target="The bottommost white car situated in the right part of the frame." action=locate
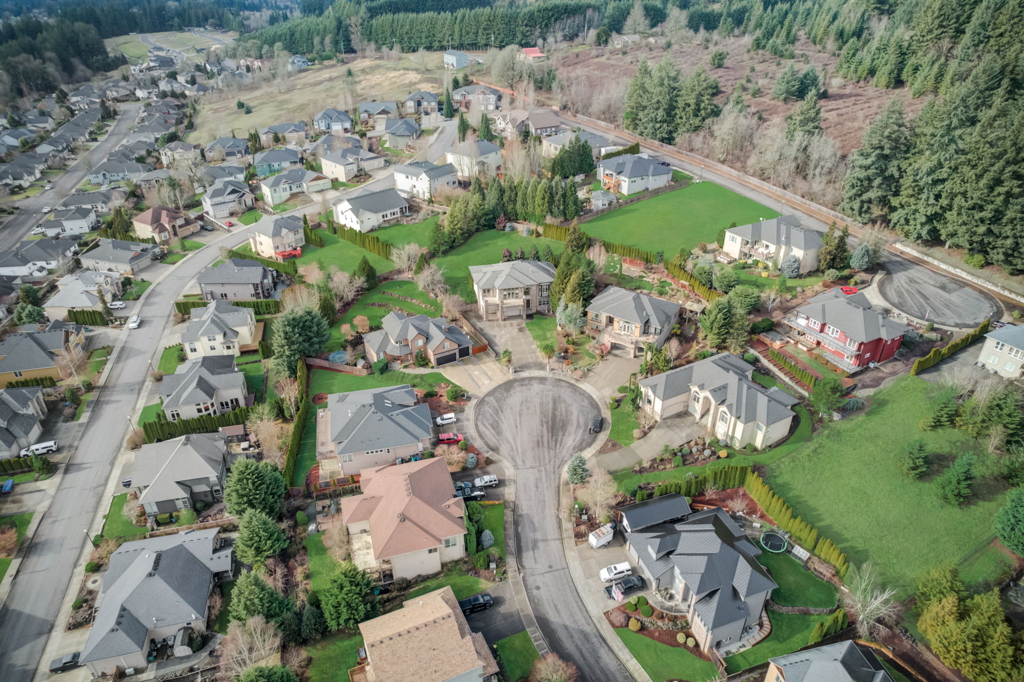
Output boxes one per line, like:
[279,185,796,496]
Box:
[599,559,634,581]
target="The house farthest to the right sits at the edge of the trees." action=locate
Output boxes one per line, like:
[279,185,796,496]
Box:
[978,318,1024,381]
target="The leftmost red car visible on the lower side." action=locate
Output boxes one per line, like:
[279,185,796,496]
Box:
[438,429,464,443]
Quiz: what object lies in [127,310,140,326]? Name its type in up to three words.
vehicle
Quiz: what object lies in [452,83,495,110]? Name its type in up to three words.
house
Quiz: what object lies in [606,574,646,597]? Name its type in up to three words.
truck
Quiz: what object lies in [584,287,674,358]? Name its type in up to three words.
house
